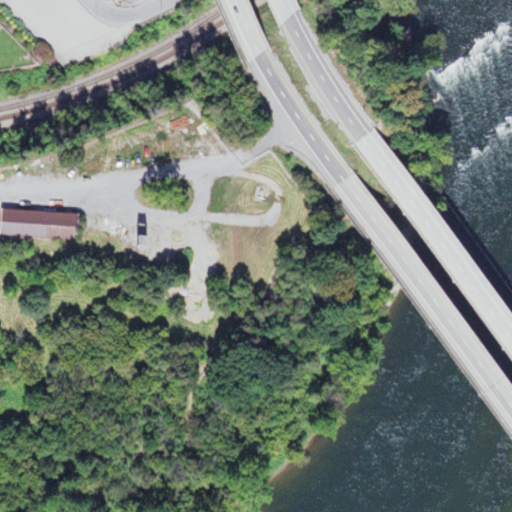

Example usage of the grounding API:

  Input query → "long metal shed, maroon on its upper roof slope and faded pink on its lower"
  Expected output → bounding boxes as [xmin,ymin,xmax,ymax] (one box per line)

[1,208,78,240]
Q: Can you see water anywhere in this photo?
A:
Yes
